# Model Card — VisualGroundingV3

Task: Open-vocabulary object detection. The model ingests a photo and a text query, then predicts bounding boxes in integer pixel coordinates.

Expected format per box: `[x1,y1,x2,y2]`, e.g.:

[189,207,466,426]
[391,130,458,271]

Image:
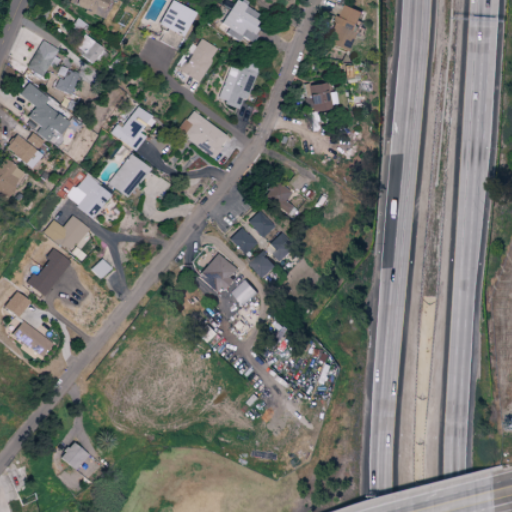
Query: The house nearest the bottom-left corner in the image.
[62,444,90,470]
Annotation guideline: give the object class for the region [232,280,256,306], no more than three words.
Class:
building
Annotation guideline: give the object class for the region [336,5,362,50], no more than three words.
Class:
house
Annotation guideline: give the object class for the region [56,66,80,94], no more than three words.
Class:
house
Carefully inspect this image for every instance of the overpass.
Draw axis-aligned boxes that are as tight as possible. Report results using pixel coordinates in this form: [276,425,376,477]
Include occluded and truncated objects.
[334,466,506,512]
